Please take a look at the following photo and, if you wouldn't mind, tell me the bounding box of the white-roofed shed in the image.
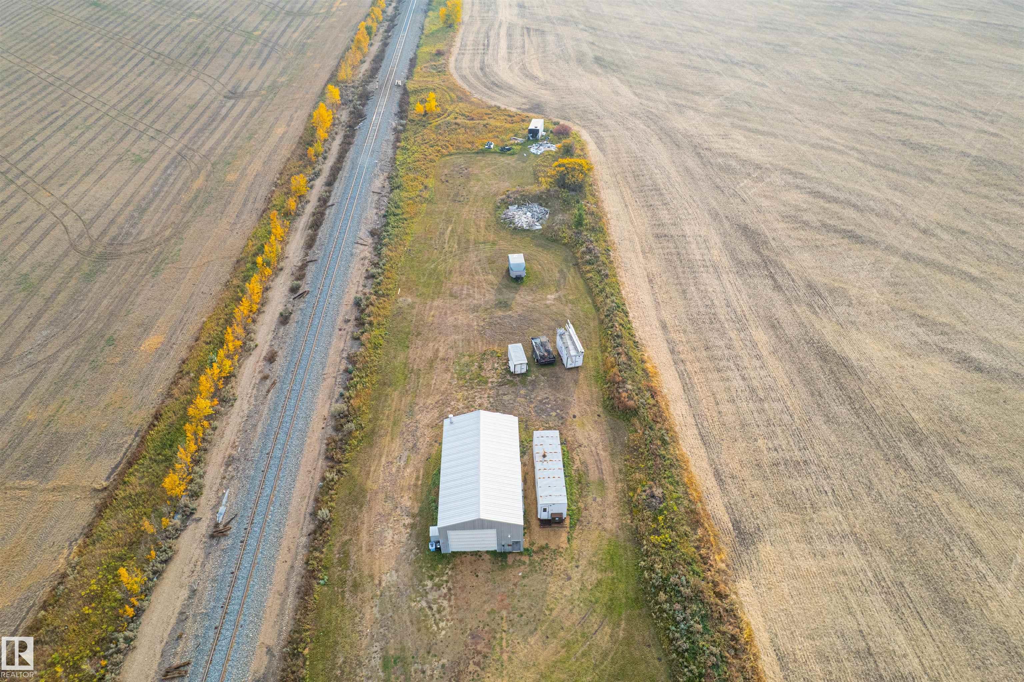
[430,408,530,555]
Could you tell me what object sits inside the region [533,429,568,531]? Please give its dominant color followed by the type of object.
white trailer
